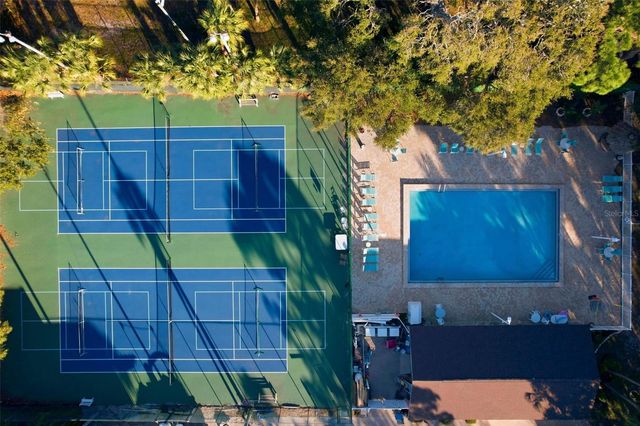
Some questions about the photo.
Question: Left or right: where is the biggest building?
right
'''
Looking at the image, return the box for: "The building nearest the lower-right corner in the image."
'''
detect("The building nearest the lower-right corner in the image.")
[409,322,599,420]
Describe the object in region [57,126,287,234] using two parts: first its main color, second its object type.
blue tennis court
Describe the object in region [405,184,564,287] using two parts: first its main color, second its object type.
blue swimming pool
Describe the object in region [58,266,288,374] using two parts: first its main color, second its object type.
blue tennis court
